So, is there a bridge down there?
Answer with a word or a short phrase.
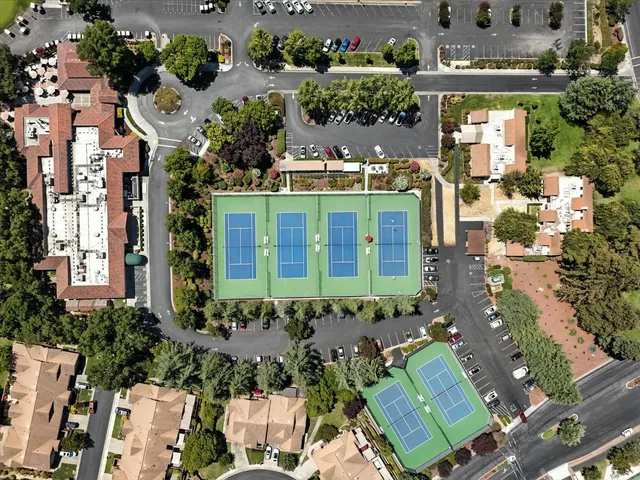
No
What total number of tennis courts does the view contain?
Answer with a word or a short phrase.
6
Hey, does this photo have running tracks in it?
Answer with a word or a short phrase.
No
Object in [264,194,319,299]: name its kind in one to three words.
tennis court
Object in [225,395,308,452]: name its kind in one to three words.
house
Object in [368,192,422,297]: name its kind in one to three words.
tennis court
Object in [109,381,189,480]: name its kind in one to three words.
house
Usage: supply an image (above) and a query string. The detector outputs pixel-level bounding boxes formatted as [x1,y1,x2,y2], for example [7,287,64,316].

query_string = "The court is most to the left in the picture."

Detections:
[213,194,266,299]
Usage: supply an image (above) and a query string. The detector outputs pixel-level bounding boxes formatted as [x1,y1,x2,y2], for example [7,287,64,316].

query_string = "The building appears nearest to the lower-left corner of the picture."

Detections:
[0,340,83,475]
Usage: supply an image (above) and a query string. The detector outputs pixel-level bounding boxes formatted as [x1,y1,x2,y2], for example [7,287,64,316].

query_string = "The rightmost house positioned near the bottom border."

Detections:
[312,430,381,480]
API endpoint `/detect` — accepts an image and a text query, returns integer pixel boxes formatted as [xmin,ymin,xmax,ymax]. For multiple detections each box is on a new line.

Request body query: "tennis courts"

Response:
[316,193,370,298]
[364,368,451,471]
[406,342,490,450]
[264,194,319,299]
[368,192,422,297]
[213,194,266,299]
